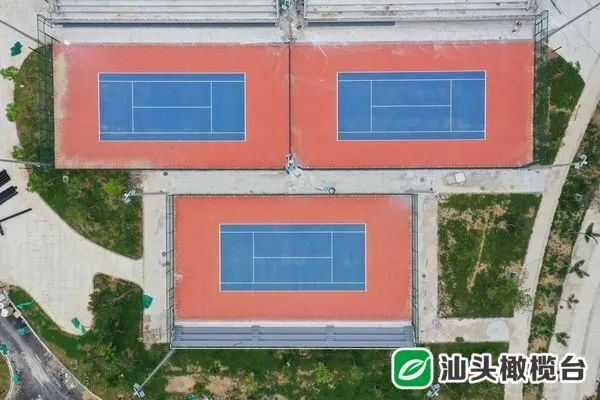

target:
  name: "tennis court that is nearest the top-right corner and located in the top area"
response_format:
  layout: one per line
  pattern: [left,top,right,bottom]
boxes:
[291,41,534,167]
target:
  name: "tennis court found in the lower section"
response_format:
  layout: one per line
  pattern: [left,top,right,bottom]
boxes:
[173,195,412,320]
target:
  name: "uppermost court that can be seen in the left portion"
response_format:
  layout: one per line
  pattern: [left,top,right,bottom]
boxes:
[52,43,289,168]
